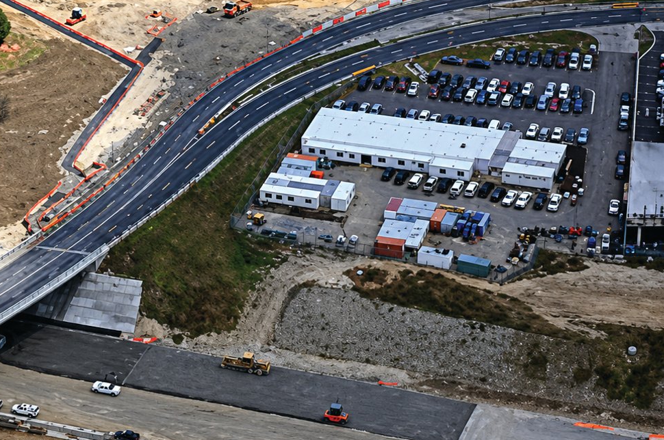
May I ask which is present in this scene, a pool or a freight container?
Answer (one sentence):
Of the two, only a freight container appears.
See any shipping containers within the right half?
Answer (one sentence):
Yes, the scene does show a shipping container within the right half.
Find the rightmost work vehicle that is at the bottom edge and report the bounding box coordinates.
[323,403,349,426]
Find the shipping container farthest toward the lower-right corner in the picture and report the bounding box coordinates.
[456,253,491,278]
